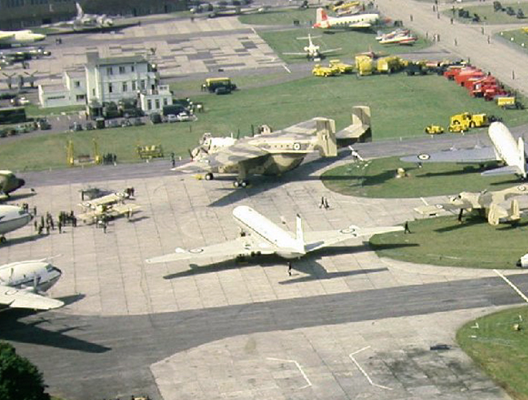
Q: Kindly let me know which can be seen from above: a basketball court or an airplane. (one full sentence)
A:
The image shows an airplane.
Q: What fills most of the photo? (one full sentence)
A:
For the most part, this view shows paved ground.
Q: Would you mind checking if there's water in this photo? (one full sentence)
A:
No, the scene doesn't show any water.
